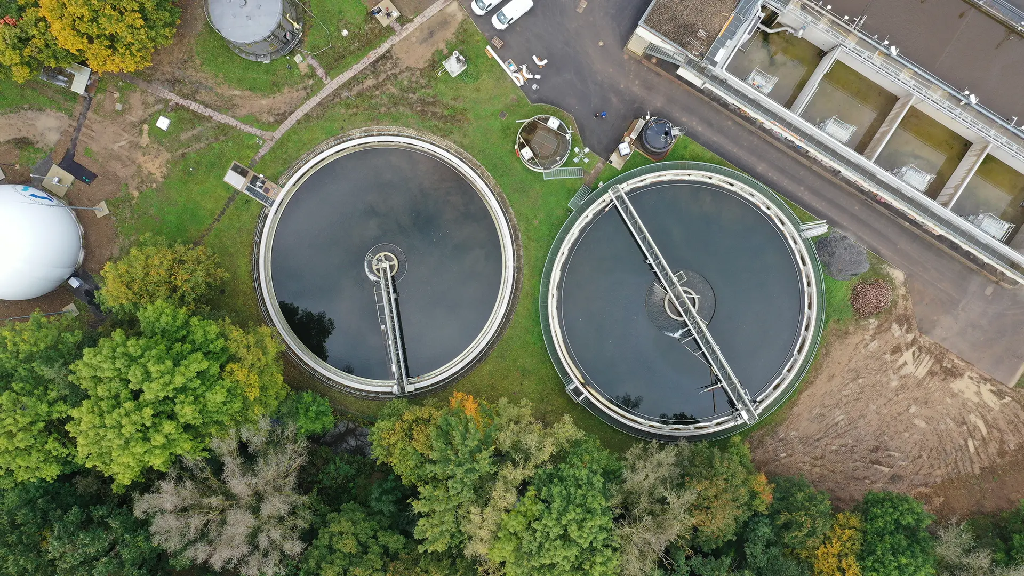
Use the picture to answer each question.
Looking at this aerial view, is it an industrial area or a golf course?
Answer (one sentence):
The picture captures an industrial area.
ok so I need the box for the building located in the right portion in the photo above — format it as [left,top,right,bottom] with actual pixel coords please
[625,0,742,65]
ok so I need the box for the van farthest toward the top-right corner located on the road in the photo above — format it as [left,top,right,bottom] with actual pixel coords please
[492,0,533,32]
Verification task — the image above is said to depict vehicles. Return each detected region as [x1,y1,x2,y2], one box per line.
[471,0,500,16]
[492,0,533,32]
